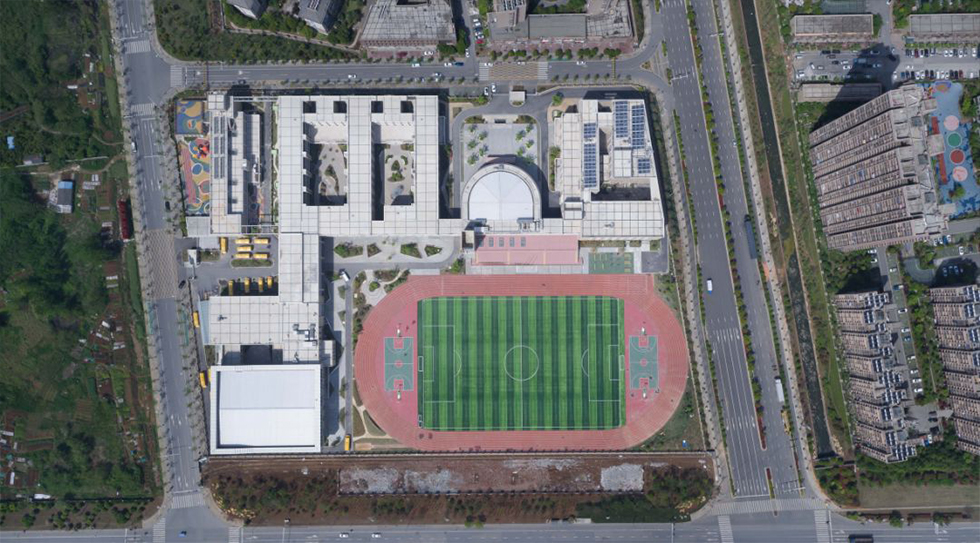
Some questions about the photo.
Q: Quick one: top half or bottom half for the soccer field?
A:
bottom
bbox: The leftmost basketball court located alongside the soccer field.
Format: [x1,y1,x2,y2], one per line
[384,337,413,392]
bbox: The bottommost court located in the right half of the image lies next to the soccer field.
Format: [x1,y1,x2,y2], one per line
[630,336,657,389]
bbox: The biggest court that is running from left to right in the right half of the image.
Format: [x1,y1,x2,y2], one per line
[589,253,633,273]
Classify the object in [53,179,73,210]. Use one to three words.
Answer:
shed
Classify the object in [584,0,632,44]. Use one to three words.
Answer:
building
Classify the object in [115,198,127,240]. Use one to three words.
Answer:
shed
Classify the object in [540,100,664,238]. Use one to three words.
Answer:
building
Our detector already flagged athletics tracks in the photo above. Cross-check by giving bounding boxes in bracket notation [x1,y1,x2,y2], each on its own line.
[355,274,687,450]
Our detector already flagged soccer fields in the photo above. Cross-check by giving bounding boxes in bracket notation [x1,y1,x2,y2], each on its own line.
[418,297,624,430]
